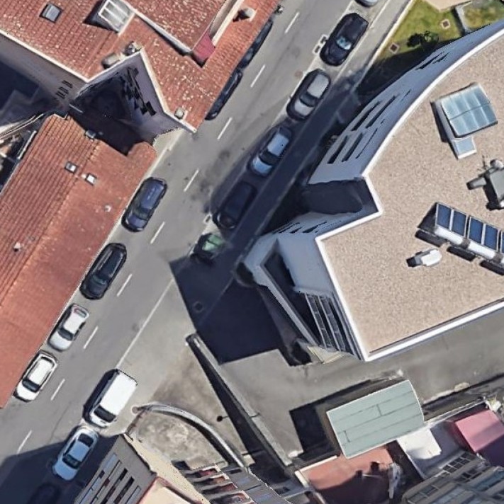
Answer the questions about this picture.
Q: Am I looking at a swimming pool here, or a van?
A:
van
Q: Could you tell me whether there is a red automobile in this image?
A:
No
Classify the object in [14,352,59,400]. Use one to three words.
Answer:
car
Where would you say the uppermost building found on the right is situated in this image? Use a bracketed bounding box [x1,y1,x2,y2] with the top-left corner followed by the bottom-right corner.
[247,23,504,366]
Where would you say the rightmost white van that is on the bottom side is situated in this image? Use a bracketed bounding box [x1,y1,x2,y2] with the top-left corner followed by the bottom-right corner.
[90,369,137,424]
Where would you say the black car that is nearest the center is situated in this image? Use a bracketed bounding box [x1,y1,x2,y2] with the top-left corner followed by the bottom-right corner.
[214,179,260,228]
